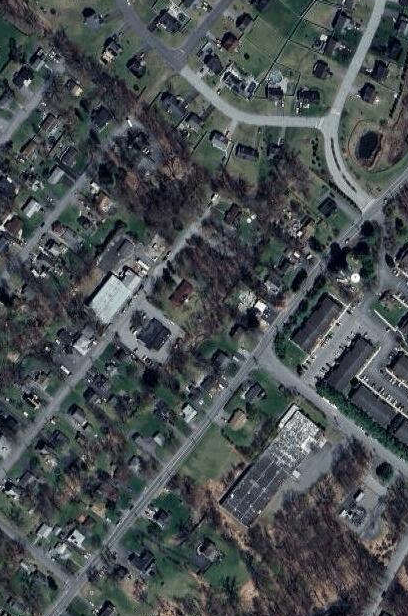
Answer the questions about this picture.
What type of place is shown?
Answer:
residential area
